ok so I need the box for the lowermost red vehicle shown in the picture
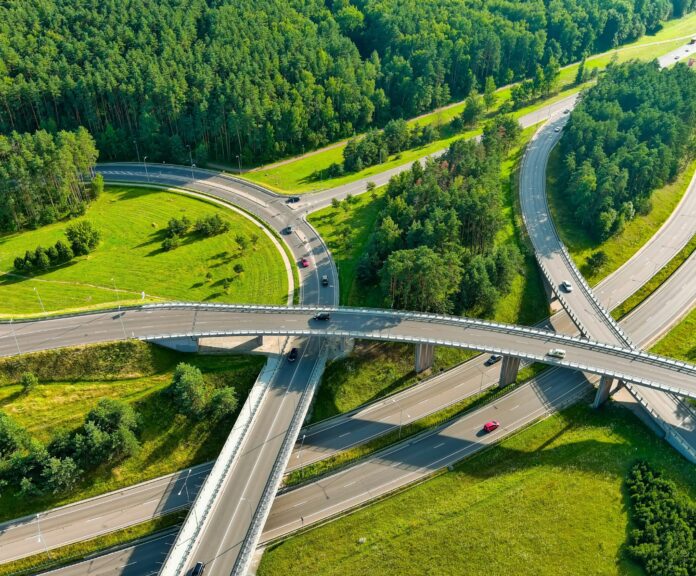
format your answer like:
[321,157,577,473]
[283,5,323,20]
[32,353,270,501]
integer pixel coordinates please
[481,421,499,433]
